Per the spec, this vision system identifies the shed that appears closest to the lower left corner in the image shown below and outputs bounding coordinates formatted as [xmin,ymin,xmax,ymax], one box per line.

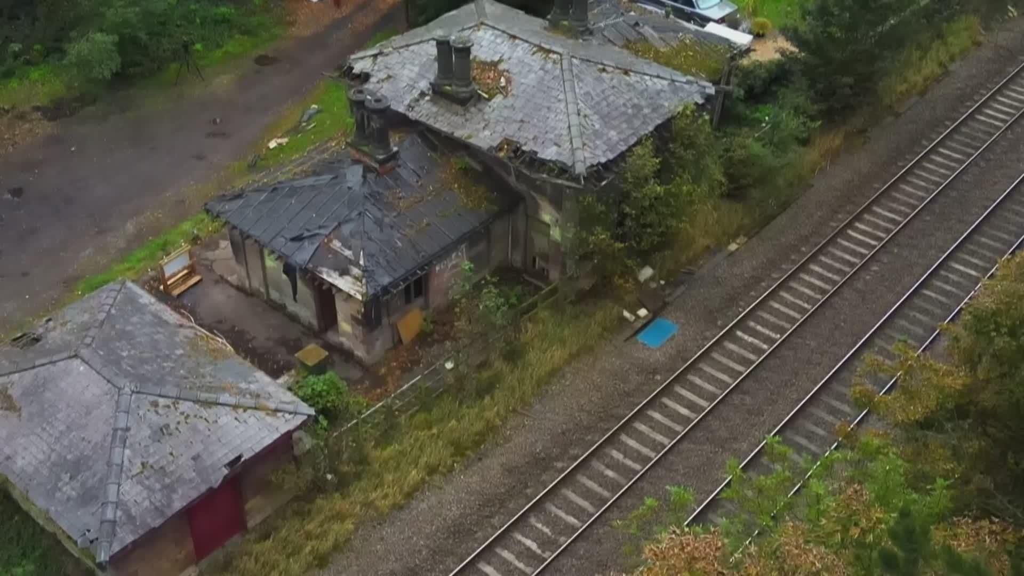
[0,278,318,576]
